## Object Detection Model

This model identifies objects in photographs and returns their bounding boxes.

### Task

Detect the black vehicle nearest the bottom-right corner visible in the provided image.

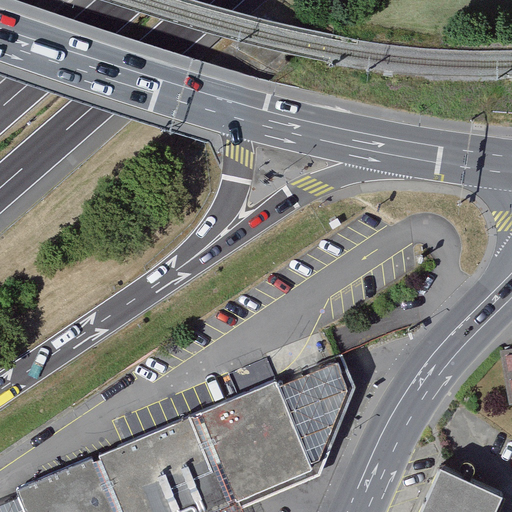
[492,432,506,454]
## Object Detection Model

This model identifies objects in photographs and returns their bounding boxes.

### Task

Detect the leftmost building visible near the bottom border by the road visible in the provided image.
[0,352,354,512]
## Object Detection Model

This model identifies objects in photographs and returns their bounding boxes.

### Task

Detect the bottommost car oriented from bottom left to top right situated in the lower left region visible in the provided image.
[30,427,56,446]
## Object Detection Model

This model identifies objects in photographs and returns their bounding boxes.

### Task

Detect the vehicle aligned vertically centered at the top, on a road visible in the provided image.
[229,120,242,146]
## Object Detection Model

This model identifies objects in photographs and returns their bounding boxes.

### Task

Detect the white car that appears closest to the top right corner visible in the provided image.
[276,101,298,114]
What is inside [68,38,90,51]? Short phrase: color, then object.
white vehicle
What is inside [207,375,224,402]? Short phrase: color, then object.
white vehicle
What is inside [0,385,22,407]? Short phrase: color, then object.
yellow vehicle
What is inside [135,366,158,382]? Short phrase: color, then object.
white car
